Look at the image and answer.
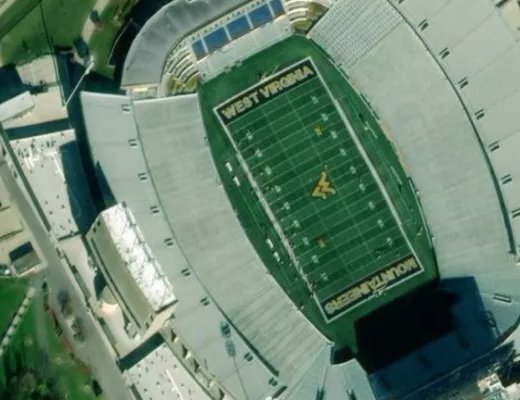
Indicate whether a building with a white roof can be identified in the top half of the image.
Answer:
Yes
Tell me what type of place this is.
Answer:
sports ground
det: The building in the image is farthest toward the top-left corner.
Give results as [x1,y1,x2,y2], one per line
[0,90,35,125]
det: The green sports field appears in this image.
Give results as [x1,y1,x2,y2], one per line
[213,56,424,322]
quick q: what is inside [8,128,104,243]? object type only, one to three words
building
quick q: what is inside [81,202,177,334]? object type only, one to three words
building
